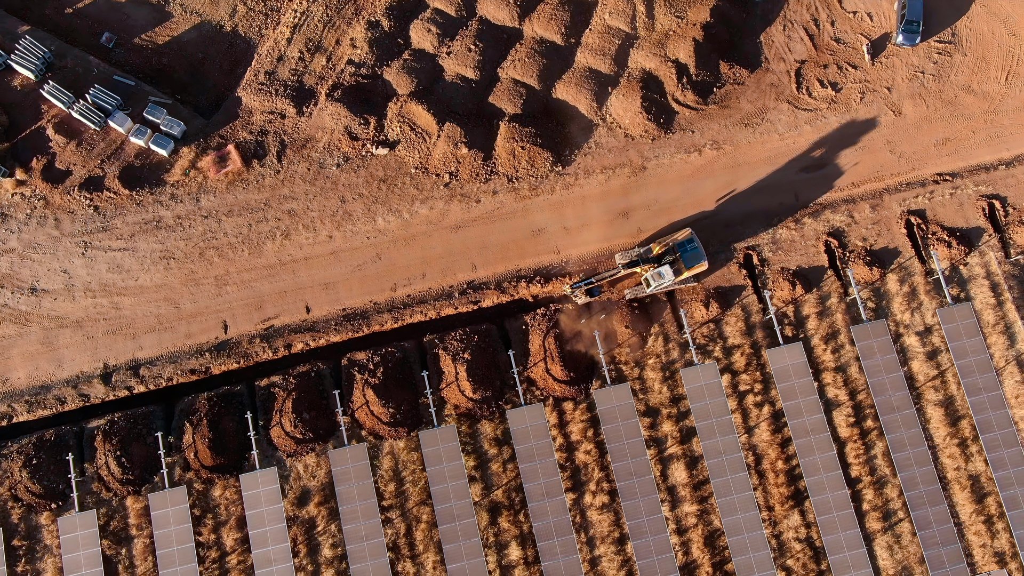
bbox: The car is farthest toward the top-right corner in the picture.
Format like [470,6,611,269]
[892,0,927,48]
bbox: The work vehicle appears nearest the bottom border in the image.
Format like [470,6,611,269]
[562,228,710,307]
